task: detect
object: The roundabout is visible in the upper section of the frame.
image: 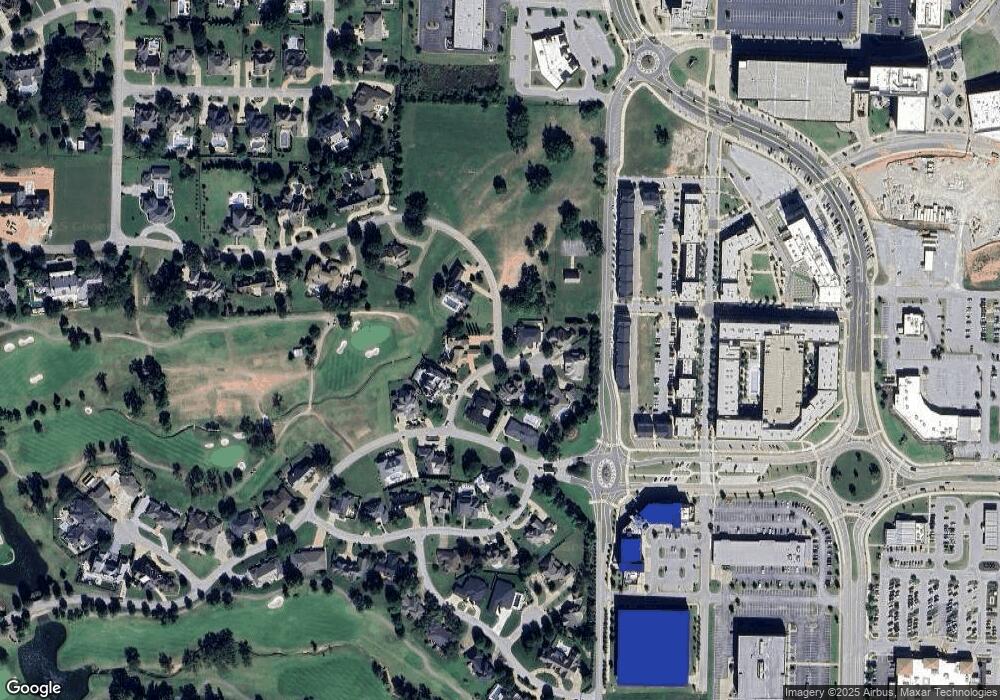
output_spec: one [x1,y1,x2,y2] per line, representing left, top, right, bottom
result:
[623,35,667,96]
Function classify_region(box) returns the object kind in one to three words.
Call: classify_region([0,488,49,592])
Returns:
pond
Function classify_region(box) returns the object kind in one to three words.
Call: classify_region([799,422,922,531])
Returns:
roundabout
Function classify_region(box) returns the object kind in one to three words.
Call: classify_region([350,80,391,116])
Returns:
house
